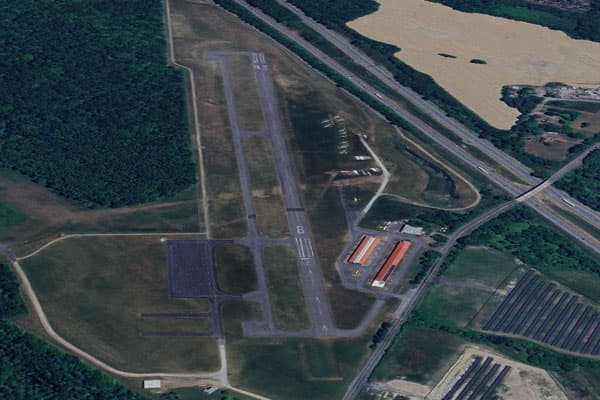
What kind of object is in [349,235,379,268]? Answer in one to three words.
hangar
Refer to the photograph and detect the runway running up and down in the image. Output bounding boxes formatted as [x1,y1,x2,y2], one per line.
[251,53,334,333]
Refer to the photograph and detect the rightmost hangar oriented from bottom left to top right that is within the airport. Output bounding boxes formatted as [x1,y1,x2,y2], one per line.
[373,240,411,291]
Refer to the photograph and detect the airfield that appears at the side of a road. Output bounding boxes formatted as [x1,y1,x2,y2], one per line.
[139,52,435,340]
